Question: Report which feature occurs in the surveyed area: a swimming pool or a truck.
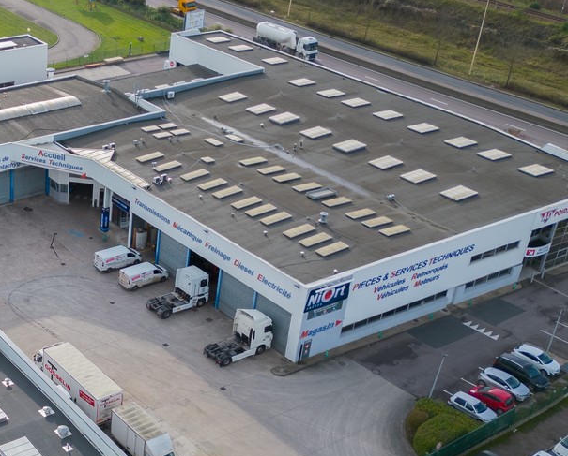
truck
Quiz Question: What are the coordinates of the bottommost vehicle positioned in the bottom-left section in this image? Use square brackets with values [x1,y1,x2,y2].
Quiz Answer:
[110,402,173,456]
